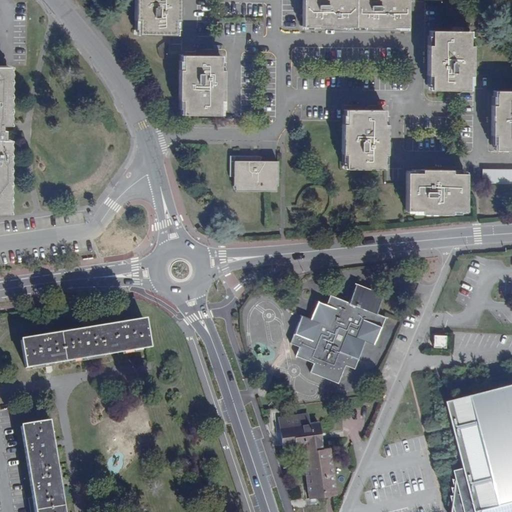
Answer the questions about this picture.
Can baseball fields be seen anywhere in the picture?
No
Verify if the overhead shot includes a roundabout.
Yes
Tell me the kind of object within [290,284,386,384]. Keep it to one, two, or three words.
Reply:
building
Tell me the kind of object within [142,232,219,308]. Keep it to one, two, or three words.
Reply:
roundabout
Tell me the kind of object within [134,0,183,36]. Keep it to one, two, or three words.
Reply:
building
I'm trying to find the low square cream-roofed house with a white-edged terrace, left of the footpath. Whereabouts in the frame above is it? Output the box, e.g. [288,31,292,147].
[229,156,279,190]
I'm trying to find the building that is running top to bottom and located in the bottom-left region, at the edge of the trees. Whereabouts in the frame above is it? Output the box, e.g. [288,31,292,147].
[19,418,67,512]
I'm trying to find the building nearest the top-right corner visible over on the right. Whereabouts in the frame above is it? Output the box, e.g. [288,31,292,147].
[428,32,477,92]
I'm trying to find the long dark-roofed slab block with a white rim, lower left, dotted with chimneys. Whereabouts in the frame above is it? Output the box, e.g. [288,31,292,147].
[22,316,154,367]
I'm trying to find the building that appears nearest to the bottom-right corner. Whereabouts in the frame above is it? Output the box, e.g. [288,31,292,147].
[444,385,512,512]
